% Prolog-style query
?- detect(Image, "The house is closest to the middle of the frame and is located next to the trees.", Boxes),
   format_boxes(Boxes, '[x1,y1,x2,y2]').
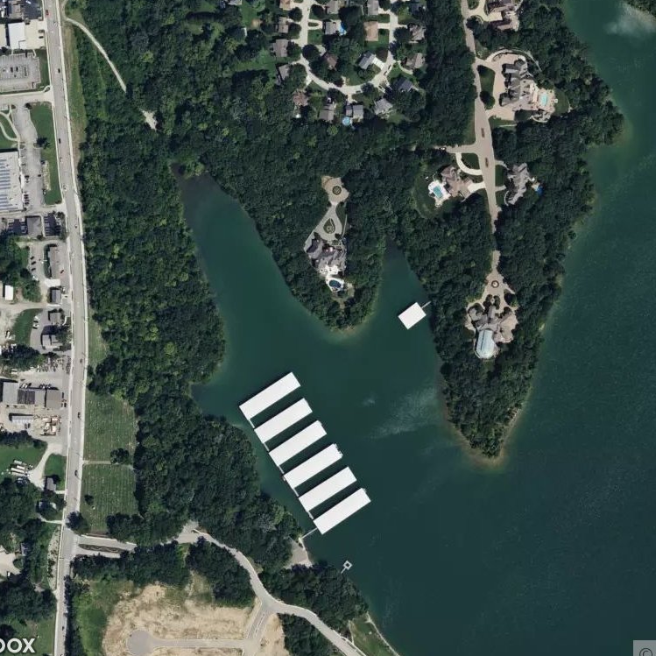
[309,241,342,270]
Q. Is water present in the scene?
Yes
